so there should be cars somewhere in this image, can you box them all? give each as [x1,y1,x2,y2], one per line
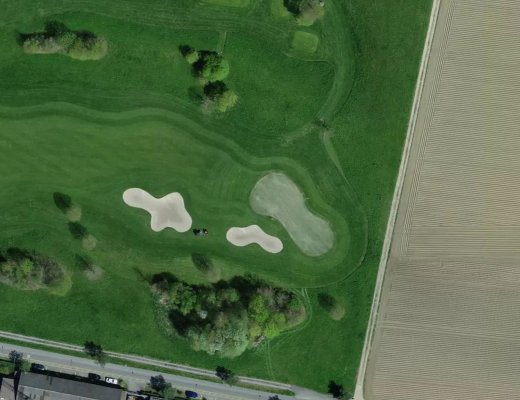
[106,379,117,385]
[185,391,197,398]
[32,364,44,371]
[89,374,100,380]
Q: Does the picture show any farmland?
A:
Yes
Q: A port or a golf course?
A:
golf course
